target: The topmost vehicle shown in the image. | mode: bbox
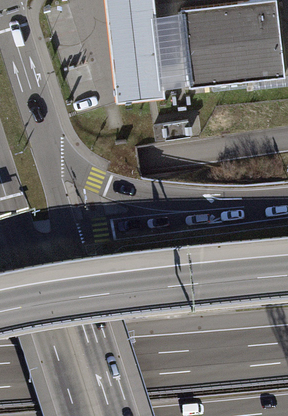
[10,20,25,48]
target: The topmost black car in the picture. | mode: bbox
[32,98,44,123]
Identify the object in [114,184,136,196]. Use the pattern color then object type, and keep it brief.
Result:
black vehicle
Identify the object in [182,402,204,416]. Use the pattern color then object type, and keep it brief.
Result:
white vehicle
